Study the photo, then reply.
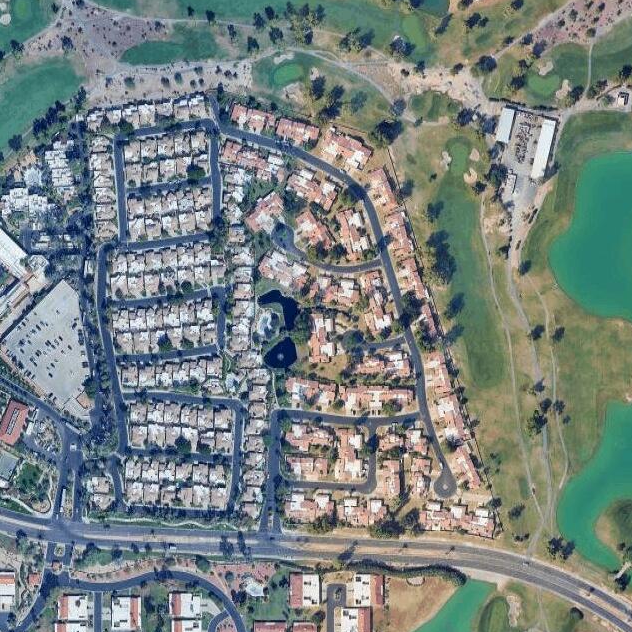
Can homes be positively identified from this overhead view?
Yes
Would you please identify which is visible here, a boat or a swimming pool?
swimming pool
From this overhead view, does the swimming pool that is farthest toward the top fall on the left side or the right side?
left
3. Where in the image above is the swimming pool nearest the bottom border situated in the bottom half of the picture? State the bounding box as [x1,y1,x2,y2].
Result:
[246,576,266,597]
